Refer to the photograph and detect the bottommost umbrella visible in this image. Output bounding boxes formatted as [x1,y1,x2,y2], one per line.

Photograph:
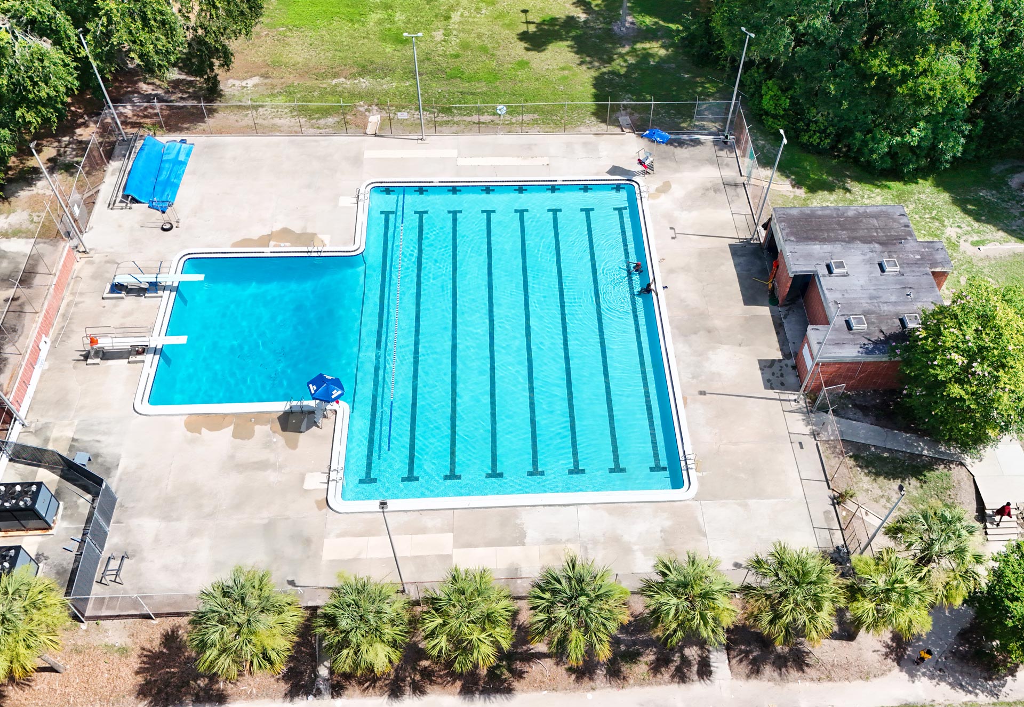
[304,371,348,408]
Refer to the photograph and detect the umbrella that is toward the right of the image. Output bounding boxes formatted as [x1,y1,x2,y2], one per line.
[639,130,669,150]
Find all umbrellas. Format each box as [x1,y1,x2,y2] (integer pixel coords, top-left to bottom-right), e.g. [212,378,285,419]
[639,130,669,150]
[304,371,348,408]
